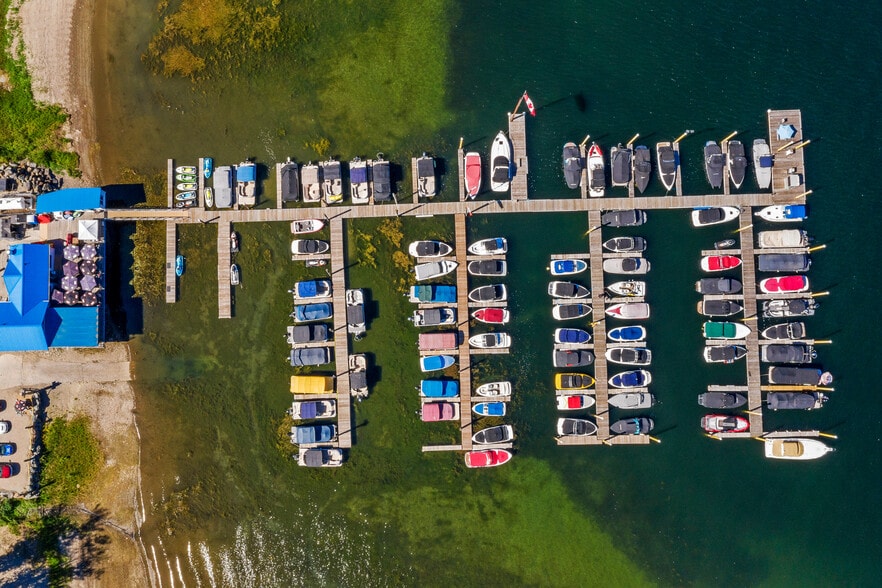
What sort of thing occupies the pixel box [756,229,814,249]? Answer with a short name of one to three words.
boat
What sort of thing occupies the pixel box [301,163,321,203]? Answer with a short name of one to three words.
boat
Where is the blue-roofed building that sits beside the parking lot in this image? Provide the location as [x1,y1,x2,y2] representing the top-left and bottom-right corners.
[0,244,100,350]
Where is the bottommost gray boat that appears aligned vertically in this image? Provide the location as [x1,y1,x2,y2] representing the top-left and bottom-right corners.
[349,353,368,400]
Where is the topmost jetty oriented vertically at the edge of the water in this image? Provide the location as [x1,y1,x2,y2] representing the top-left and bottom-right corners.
[768,110,806,205]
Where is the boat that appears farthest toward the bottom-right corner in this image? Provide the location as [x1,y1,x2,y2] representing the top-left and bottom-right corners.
[764,437,836,461]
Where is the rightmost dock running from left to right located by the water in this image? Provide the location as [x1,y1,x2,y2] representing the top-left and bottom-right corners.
[167,114,771,224]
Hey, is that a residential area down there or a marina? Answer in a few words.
marina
